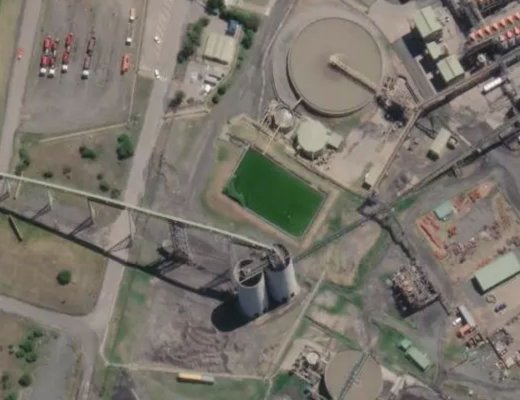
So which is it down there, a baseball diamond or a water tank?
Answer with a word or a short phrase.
water tank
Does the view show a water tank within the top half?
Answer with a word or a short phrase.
Yes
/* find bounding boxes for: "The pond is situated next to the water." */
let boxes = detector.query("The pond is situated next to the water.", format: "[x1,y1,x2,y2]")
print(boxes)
[222,145,329,239]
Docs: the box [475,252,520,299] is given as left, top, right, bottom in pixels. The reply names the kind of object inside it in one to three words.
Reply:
building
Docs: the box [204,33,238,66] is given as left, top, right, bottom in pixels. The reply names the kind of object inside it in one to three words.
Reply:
shed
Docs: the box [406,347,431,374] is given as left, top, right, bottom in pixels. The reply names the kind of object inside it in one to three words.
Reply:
shed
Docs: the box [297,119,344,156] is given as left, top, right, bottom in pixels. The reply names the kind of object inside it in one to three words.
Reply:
water tank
